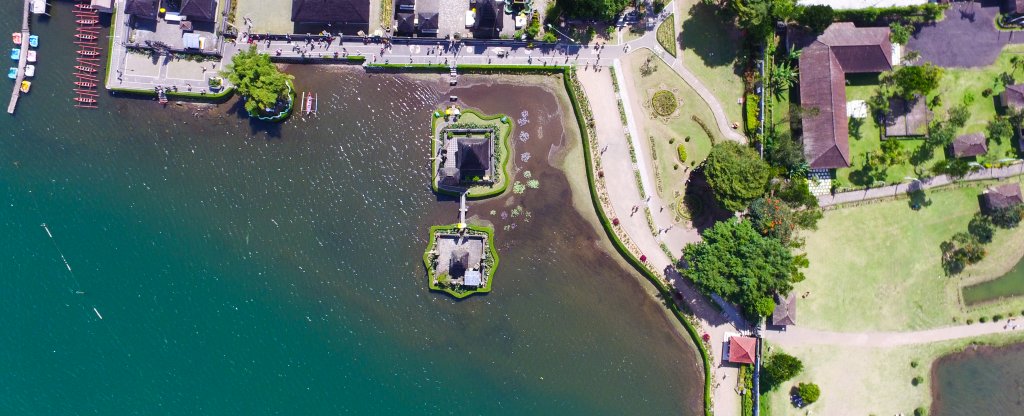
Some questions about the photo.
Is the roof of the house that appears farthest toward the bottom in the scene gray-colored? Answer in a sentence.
No, the color of the roof of the house that appears farthest toward the bottom is red.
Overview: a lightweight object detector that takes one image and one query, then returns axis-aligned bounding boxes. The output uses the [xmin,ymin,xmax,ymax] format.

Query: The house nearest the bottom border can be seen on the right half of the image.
[728,336,756,363]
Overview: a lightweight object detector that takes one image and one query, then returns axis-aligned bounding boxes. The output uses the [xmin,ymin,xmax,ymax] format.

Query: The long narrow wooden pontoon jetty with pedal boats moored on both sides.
[6,0,29,112]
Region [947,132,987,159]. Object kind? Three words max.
house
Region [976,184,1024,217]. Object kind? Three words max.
house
